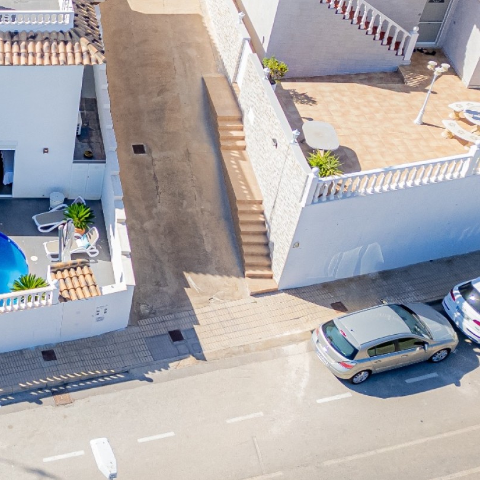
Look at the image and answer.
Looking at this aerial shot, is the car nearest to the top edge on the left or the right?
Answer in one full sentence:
You can find the car nearest to the top edge on the right side of the picture.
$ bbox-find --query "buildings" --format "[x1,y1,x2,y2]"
[0,0,109,199]
[234,0,480,74]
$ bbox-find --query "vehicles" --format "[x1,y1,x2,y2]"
[438,270,480,338]
[303,292,464,384]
